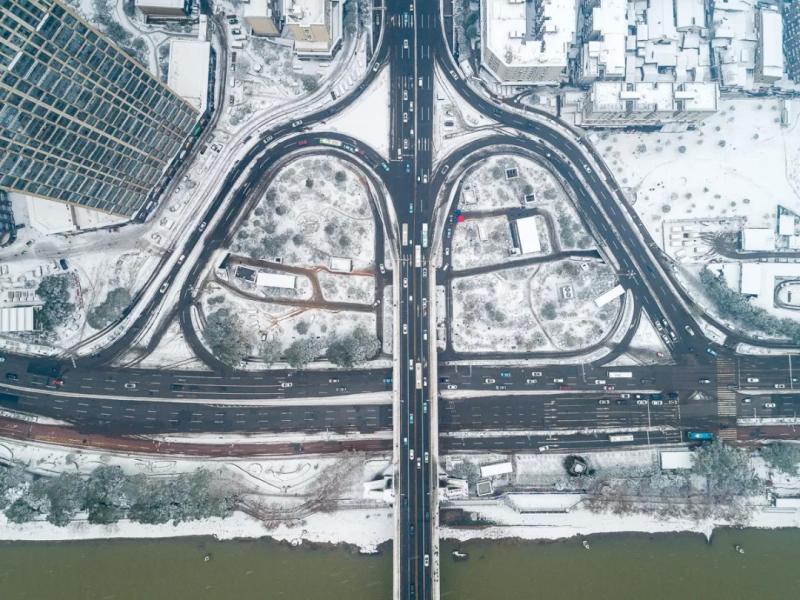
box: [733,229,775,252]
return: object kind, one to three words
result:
building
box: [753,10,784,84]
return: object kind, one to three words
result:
house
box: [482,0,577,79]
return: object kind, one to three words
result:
building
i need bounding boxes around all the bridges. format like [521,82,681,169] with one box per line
[393,205,438,600]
